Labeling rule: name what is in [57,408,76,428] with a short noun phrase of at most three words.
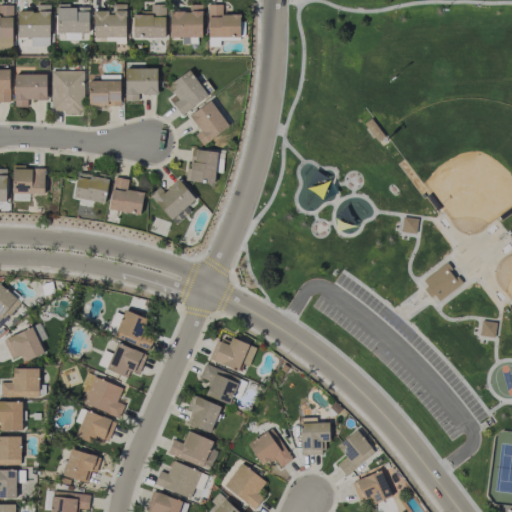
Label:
swimming pool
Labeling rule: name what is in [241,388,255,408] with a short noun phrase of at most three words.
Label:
swimming pool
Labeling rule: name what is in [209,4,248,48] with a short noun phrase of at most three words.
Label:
house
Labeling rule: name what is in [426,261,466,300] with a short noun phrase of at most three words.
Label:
building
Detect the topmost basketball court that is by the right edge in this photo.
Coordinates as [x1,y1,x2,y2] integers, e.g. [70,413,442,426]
[488,356,512,406]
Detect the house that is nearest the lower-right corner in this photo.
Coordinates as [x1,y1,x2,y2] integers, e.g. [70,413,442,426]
[354,462,399,503]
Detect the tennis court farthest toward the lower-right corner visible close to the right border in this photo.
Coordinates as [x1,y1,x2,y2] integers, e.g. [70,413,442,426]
[488,430,512,506]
